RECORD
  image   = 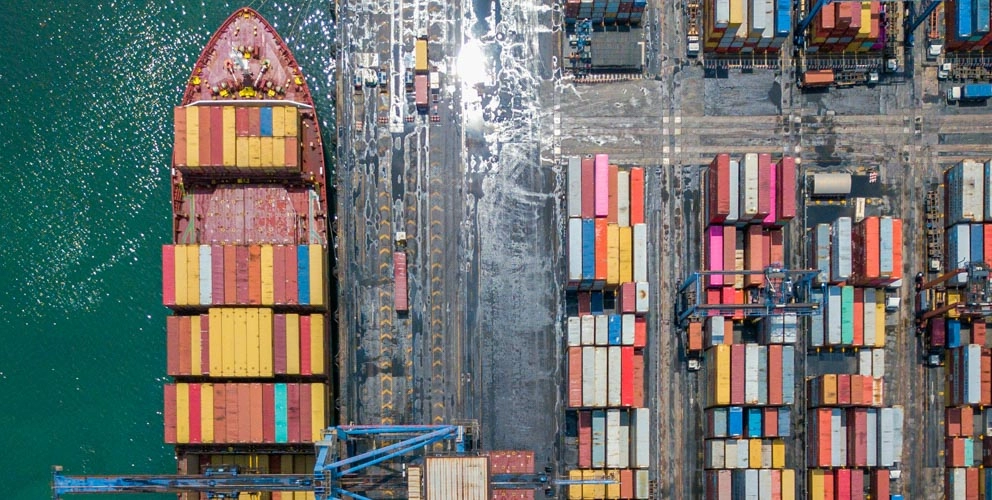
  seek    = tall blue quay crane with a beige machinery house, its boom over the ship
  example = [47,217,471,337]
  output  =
[50,421,606,500]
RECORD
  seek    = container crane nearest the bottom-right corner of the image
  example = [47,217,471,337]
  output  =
[919,266,992,326]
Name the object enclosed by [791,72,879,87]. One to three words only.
vehicle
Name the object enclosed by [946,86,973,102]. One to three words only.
vehicle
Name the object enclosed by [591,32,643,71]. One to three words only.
shed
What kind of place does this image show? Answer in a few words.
port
